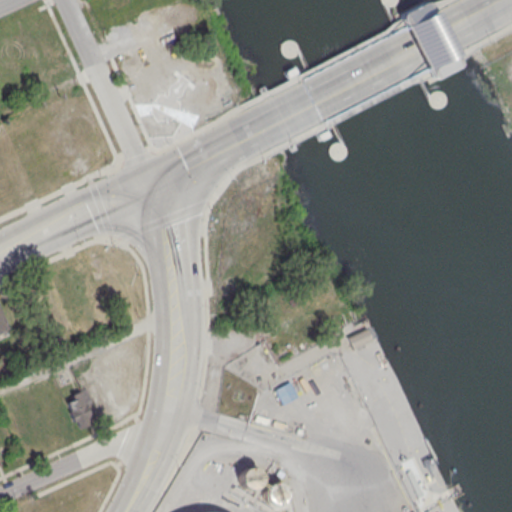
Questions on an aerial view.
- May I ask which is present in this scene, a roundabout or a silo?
silo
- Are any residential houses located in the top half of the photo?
No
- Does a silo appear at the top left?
No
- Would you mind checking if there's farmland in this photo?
No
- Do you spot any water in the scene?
Yes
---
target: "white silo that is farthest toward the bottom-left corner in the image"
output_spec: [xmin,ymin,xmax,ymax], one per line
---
[242,466,268,490]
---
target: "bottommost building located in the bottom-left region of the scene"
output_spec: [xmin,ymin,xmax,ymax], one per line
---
[65,388,96,426]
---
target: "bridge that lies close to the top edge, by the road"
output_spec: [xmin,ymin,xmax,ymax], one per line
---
[243,0,468,158]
